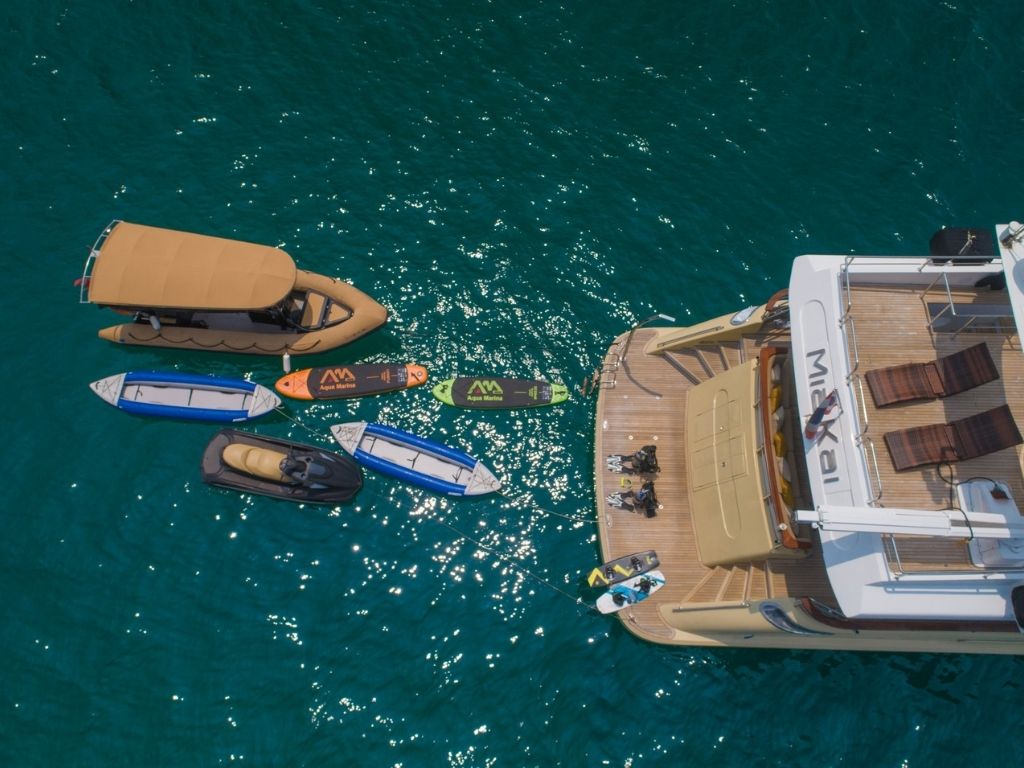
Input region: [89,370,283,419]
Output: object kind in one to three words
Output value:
boat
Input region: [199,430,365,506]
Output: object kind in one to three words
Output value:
boat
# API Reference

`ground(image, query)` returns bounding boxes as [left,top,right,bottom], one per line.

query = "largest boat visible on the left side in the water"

[74,222,388,354]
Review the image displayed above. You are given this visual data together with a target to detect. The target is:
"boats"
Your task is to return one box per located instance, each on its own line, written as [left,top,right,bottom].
[331,420,500,492]
[74,222,388,354]
[89,370,283,419]
[581,222,1024,656]
[199,430,365,506]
